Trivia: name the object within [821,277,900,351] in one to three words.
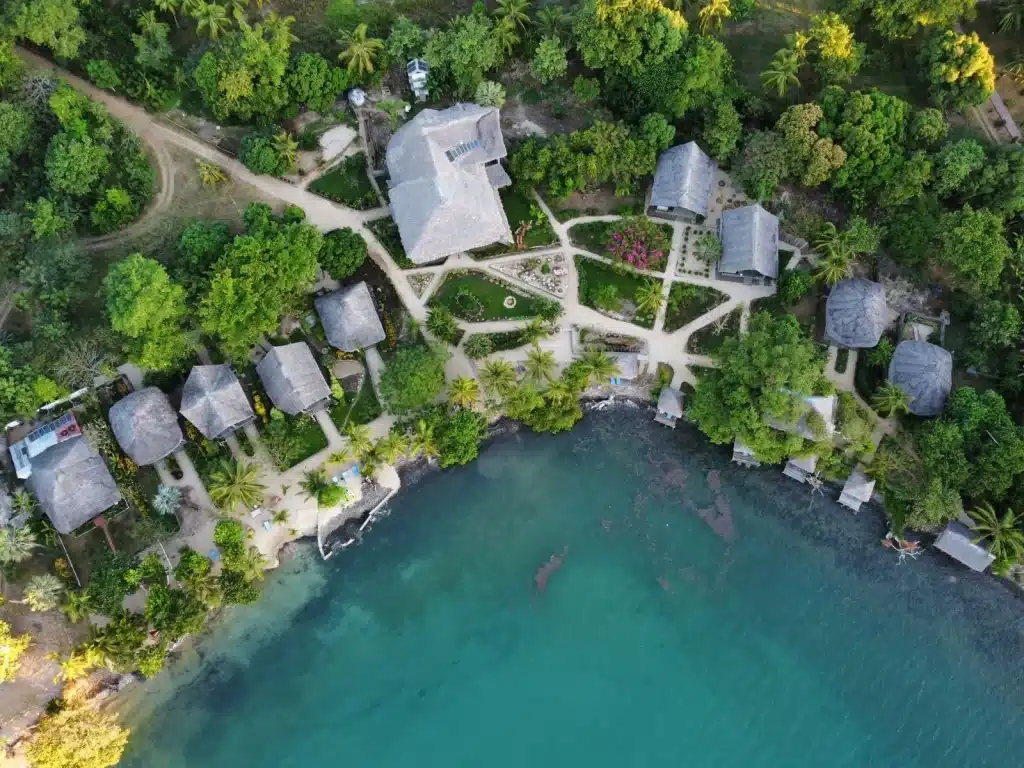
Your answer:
shed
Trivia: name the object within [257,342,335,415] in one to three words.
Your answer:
shed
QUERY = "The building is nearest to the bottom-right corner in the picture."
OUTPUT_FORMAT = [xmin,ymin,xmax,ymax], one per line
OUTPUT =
[925,516,998,572]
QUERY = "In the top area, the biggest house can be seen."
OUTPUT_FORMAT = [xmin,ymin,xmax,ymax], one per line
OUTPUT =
[387,103,513,265]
